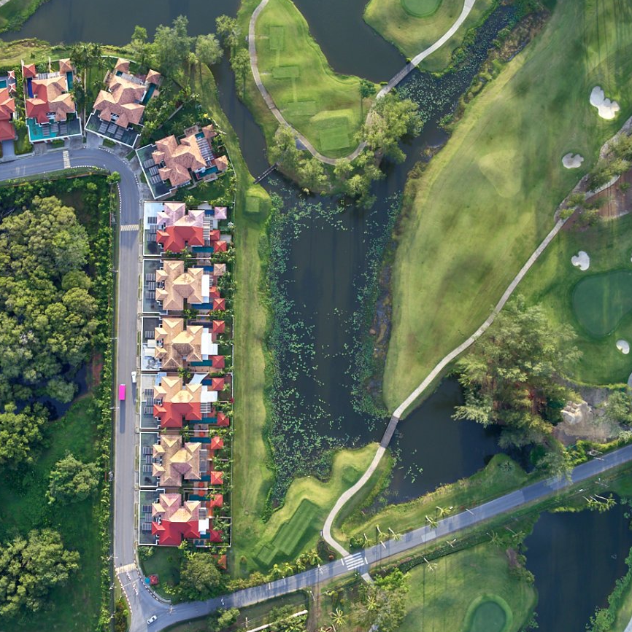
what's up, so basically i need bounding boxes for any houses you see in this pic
[143,200,215,256]
[139,492,210,548]
[84,74,147,148]
[141,318,218,372]
[140,434,206,489]
[141,375,217,430]
[136,136,211,199]
[0,84,18,139]
[142,259,213,313]
[27,74,82,142]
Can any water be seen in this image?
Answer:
Yes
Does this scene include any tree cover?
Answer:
Yes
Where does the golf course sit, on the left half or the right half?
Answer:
right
